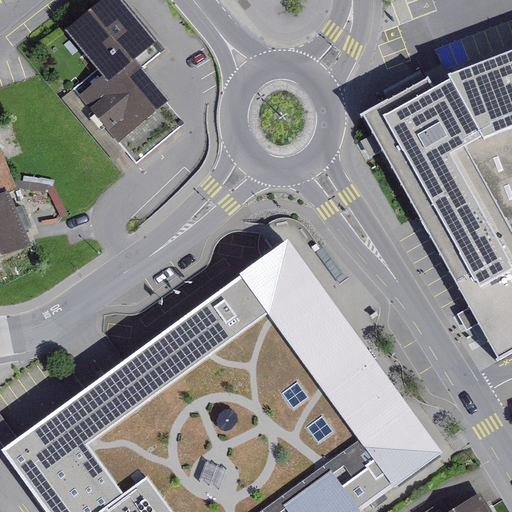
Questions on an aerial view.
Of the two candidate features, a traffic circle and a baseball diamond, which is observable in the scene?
traffic circle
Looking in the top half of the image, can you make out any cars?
Yes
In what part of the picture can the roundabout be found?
top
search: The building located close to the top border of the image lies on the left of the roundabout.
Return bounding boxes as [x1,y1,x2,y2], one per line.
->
[65,0,184,163]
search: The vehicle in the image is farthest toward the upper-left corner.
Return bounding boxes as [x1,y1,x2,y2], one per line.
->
[186,50,206,66]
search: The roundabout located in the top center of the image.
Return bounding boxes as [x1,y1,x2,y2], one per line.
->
[220,49,344,187]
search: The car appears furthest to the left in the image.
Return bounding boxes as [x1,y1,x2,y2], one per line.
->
[66,214,90,228]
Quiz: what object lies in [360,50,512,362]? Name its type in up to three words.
building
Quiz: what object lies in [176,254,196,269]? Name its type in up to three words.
car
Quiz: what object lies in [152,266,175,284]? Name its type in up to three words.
car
